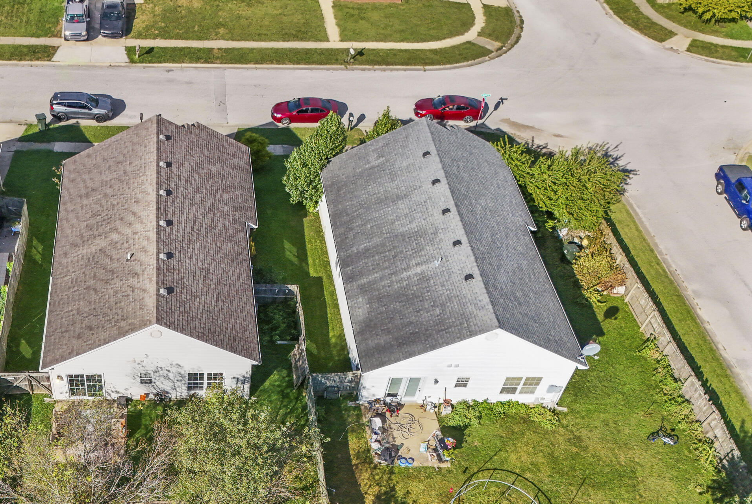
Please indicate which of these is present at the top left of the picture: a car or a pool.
car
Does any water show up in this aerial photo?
No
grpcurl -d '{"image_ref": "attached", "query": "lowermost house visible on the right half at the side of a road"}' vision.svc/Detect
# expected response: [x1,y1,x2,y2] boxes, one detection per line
[319,119,591,404]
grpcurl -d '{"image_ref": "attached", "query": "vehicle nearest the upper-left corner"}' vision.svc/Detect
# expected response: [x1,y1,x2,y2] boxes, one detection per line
[63,0,92,35]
